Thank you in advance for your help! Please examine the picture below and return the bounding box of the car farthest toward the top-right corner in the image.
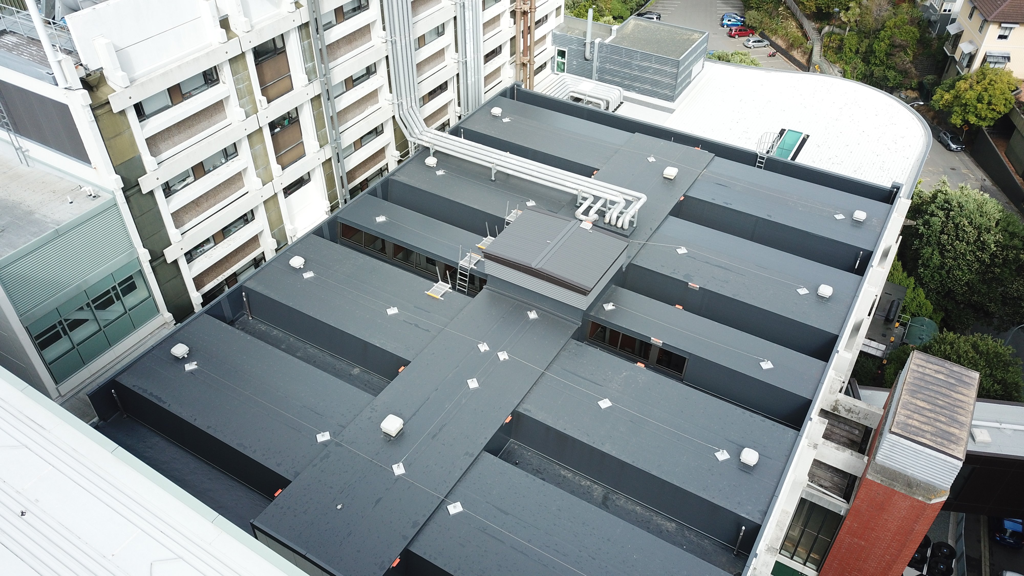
[934,133,961,155]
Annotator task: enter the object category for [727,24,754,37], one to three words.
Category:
vehicle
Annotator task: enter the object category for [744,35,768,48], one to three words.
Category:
vehicle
